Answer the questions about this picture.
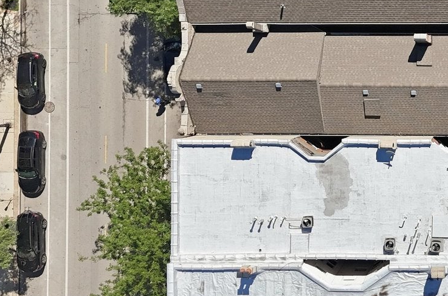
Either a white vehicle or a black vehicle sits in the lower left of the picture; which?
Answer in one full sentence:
You can see a black vehicle in the lower left of the picture.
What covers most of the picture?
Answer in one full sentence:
What you mostly see from above here is buildings.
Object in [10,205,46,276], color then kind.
black car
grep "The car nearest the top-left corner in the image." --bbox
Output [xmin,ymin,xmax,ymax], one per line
[9,51,46,110]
